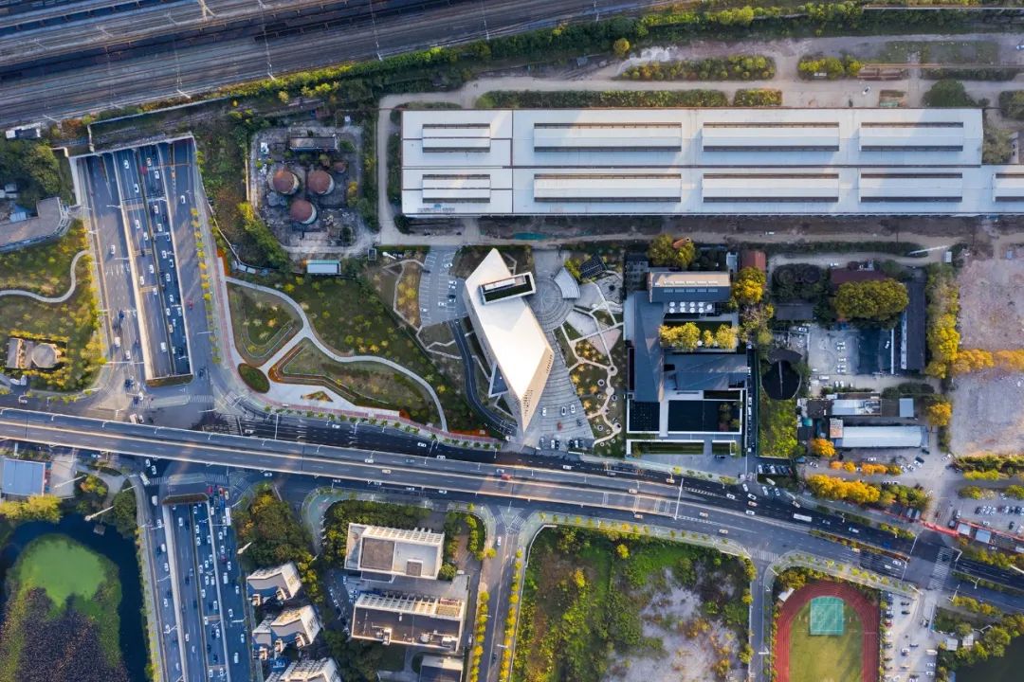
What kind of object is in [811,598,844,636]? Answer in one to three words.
sports court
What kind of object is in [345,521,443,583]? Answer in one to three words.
building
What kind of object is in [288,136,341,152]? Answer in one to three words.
shed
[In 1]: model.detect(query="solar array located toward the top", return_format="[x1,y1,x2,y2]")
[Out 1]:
[579,254,607,279]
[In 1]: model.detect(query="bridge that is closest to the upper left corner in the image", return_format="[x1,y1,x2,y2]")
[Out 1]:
[65,135,195,159]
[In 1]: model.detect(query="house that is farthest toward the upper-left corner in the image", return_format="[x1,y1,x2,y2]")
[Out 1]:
[5,127,44,142]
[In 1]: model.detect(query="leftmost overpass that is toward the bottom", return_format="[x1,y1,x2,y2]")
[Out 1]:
[0,408,679,519]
